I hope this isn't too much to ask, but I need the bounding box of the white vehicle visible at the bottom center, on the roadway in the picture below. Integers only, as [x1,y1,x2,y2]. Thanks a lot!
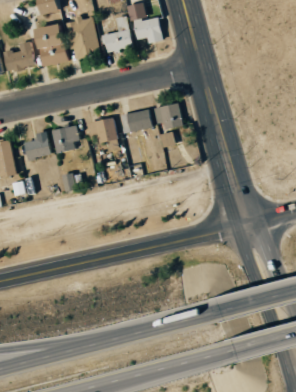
[154,310,200,326]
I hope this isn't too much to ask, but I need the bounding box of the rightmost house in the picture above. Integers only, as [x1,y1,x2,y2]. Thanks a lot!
[156,103,186,132]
